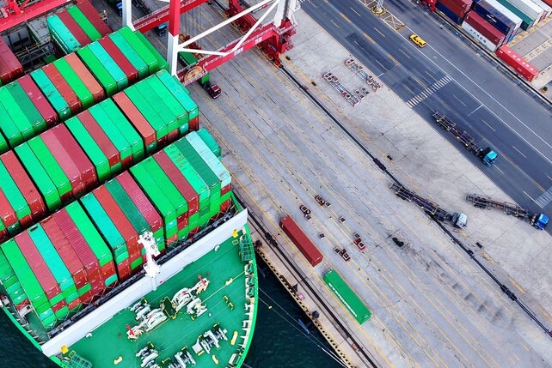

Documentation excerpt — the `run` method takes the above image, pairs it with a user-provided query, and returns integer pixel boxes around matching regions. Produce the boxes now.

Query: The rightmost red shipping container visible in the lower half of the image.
[279,216,323,267]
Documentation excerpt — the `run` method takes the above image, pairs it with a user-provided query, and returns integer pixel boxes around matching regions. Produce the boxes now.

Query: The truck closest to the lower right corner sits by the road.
[472,192,546,229]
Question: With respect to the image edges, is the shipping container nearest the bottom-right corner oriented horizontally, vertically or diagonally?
diagonally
